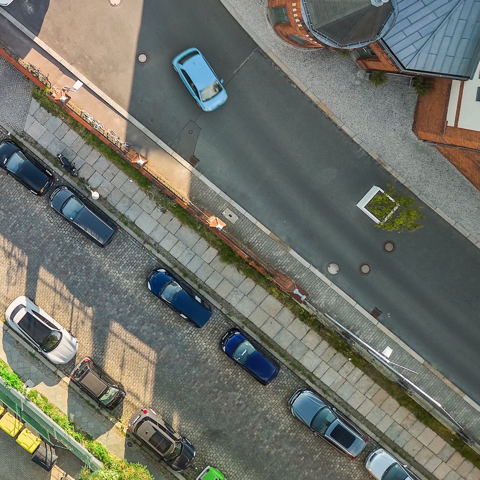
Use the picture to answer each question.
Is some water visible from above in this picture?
No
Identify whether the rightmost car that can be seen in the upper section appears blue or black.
blue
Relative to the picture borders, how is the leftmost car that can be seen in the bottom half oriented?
diagonally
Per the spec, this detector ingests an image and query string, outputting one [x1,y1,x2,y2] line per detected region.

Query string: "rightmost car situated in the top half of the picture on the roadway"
[175,47,222,110]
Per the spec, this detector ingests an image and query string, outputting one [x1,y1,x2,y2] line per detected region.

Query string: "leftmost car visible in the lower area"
[7,297,75,359]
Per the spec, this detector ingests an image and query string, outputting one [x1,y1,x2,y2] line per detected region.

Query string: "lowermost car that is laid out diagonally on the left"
[129,406,193,469]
